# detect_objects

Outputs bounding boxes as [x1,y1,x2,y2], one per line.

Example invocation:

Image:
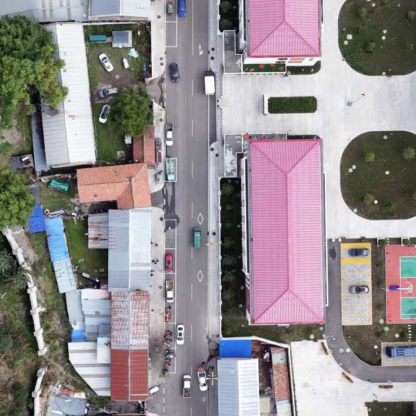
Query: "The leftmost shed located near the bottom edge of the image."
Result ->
[68,341,110,396]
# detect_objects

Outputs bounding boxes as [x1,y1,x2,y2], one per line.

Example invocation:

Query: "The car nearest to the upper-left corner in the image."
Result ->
[99,53,113,72]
